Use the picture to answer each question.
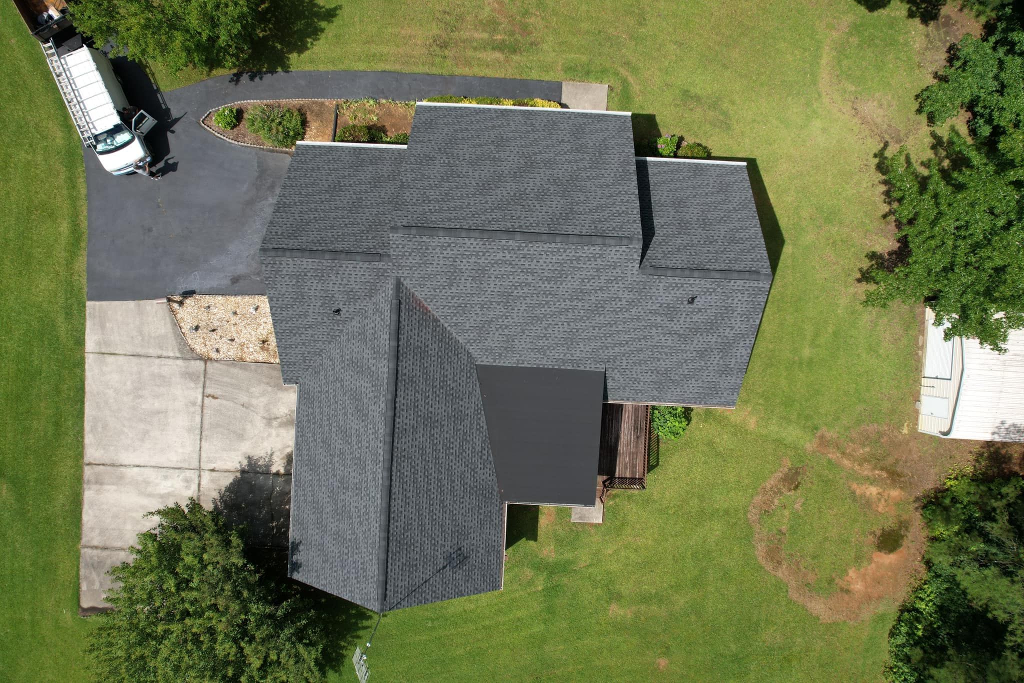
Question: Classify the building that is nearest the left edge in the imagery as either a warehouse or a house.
house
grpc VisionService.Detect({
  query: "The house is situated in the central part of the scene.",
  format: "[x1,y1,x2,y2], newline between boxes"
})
[261,99,773,612]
